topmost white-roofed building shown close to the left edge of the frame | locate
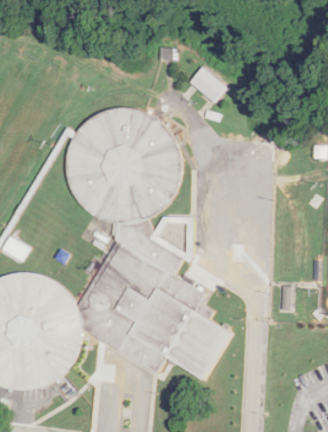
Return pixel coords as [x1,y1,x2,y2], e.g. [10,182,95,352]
[2,236,31,262]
